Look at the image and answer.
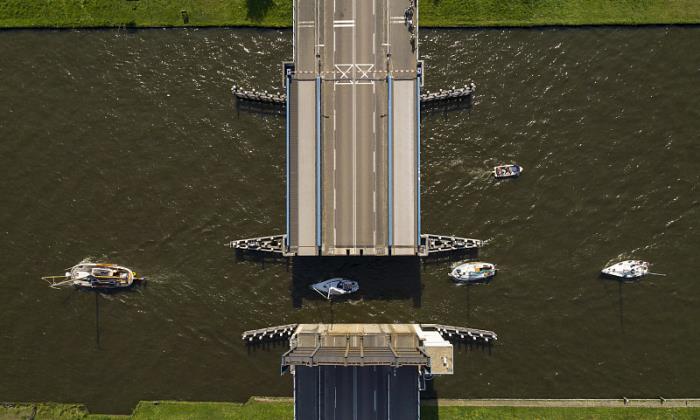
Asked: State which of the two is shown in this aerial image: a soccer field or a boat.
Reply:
boat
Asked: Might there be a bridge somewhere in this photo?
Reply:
Yes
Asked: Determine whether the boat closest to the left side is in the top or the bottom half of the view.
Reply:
bottom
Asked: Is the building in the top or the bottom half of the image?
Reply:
bottom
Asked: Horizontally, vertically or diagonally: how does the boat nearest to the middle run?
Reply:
horizontally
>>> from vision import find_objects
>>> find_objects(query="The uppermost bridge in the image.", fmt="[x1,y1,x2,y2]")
[283,0,430,256]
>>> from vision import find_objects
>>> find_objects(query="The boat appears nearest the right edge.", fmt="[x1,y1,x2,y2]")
[600,261,662,280]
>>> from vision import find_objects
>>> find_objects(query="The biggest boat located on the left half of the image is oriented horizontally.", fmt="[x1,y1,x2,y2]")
[42,263,146,289]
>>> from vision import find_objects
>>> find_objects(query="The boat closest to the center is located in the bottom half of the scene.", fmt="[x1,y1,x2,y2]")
[312,278,359,298]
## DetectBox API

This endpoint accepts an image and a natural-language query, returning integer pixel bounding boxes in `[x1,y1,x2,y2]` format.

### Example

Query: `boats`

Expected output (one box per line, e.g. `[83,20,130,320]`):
[42,263,146,289]
[312,278,359,298]
[448,262,497,281]
[492,165,523,179]
[600,261,662,280]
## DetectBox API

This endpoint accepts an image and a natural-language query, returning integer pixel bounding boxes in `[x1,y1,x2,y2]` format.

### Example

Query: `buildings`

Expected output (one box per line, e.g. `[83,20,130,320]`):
[420,329,454,389]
